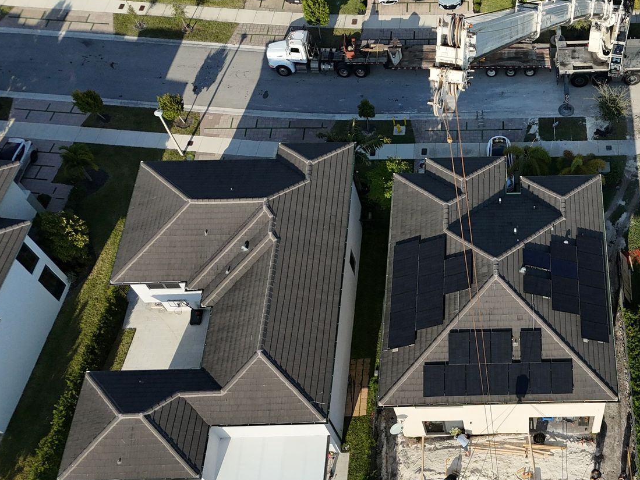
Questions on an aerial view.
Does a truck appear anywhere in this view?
Yes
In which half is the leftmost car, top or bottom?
top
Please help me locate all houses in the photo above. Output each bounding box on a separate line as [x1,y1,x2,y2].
[57,142,364,480]
[0,159,69,427]
[377,154,620,436]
